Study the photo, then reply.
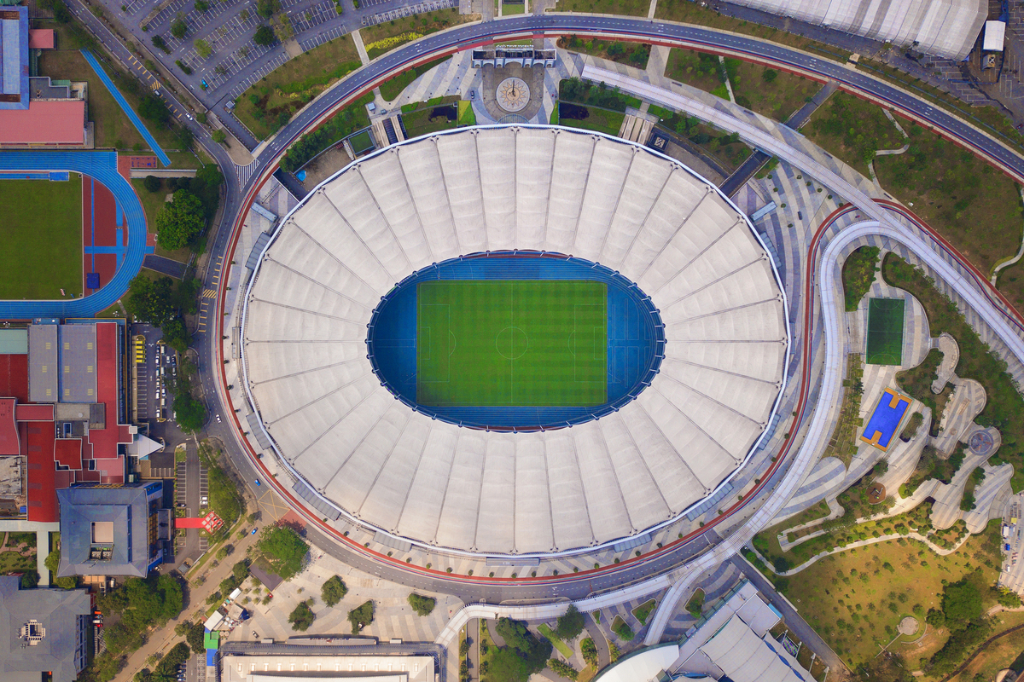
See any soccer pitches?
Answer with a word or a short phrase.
Yes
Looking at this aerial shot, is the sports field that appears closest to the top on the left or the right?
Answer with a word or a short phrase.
left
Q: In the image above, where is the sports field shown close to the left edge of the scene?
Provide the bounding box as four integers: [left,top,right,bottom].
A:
[0,172,82,300]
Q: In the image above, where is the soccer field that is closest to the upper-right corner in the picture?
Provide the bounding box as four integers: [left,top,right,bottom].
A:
[867,294,910,367]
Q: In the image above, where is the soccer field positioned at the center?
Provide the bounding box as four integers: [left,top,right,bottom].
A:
[417,280,608,407]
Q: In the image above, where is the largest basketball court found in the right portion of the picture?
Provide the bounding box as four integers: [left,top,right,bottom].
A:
[862,386,916,454]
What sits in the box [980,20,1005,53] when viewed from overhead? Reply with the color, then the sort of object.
white tent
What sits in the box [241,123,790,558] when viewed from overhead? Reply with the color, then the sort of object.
white stadium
